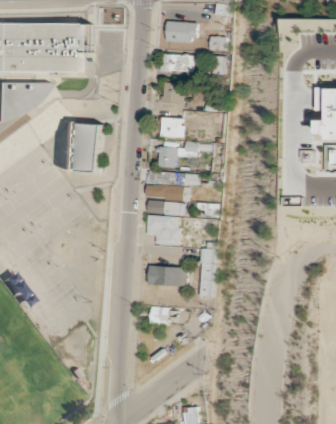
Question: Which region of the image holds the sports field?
bottom left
